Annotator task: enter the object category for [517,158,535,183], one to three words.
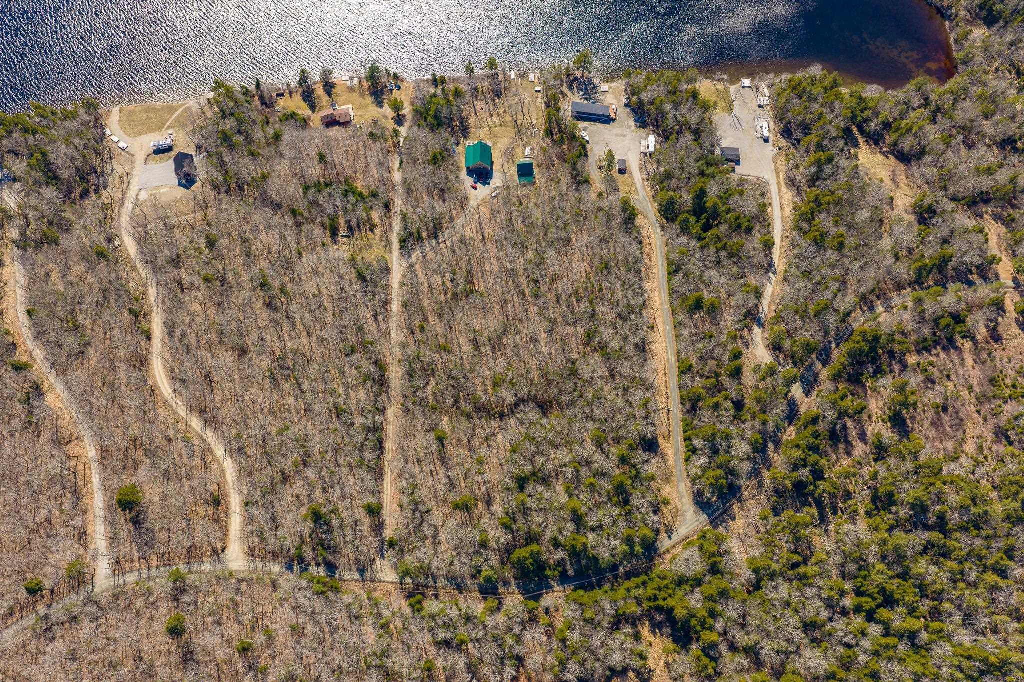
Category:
shed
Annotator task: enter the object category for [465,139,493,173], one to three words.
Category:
house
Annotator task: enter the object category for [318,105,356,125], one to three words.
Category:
building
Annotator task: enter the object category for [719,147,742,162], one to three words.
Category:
building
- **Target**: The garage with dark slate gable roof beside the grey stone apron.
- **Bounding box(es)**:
[173,151,196,177]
